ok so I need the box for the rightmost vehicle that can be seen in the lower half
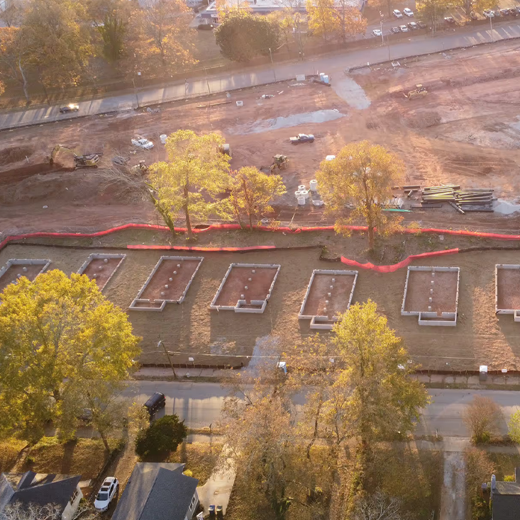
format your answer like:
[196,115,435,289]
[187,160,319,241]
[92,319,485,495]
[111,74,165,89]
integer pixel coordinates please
[131,389,164,419]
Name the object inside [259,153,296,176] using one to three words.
work vehicle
